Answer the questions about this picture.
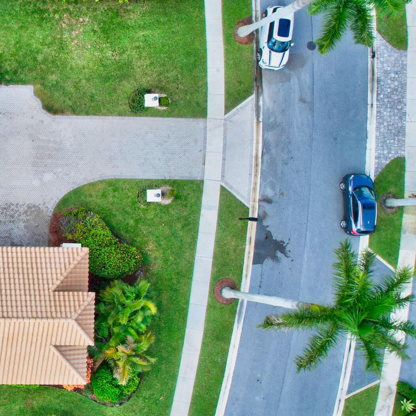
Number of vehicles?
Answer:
two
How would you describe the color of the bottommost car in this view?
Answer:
blue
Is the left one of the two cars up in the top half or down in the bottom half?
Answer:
top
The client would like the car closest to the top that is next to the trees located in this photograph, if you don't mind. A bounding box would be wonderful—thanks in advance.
[259,3,298,68]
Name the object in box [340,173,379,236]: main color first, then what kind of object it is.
blue car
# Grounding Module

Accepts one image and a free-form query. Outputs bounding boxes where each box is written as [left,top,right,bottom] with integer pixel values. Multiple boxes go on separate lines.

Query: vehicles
[340,173,379,236]
[259,3,298,68]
